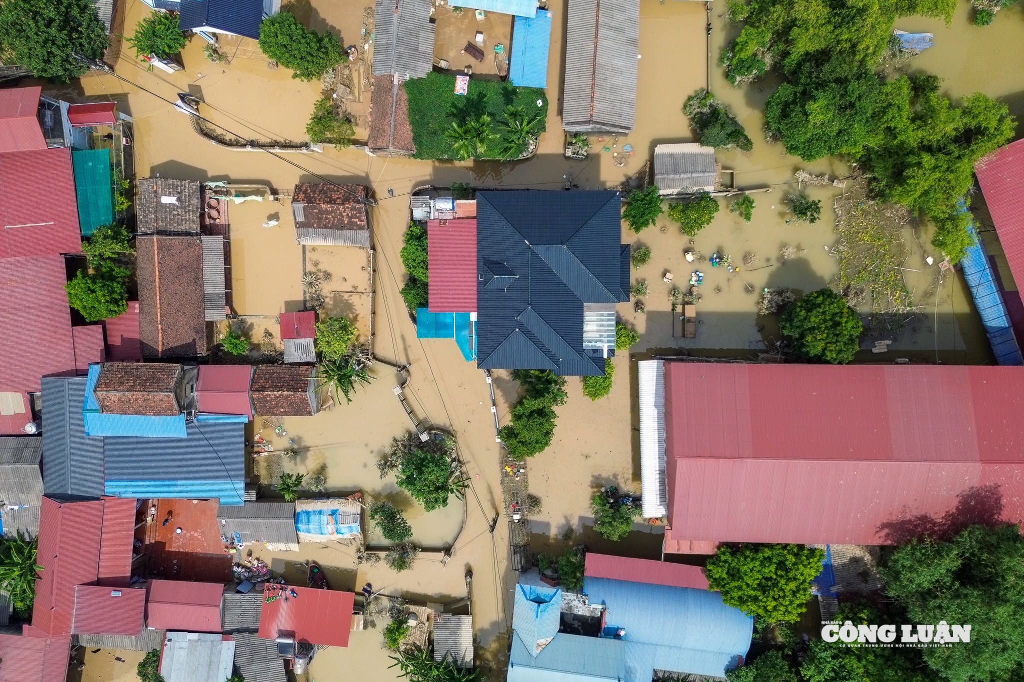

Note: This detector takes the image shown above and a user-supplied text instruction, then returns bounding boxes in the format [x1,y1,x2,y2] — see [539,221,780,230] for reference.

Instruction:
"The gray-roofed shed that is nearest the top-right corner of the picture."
[654,143,721,197]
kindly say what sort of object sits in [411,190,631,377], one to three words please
house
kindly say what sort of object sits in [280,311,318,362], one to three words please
shed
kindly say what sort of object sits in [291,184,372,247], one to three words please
house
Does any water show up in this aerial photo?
Yes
